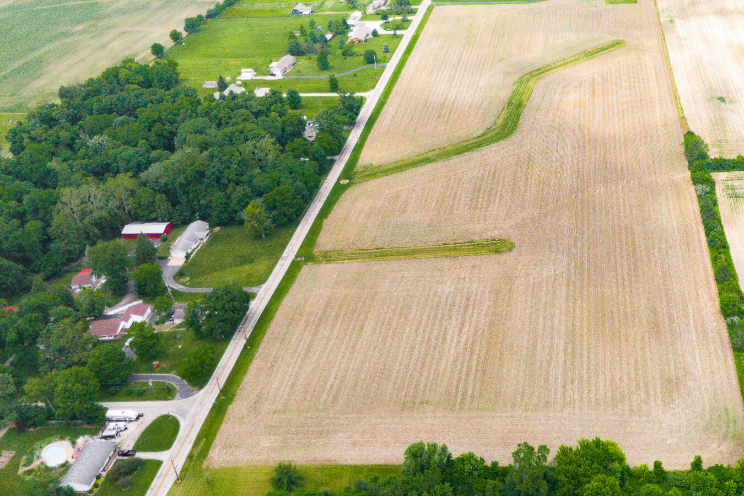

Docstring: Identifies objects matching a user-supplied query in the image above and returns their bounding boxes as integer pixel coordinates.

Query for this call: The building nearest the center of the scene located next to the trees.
[302,122,320,147]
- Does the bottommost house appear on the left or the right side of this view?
left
